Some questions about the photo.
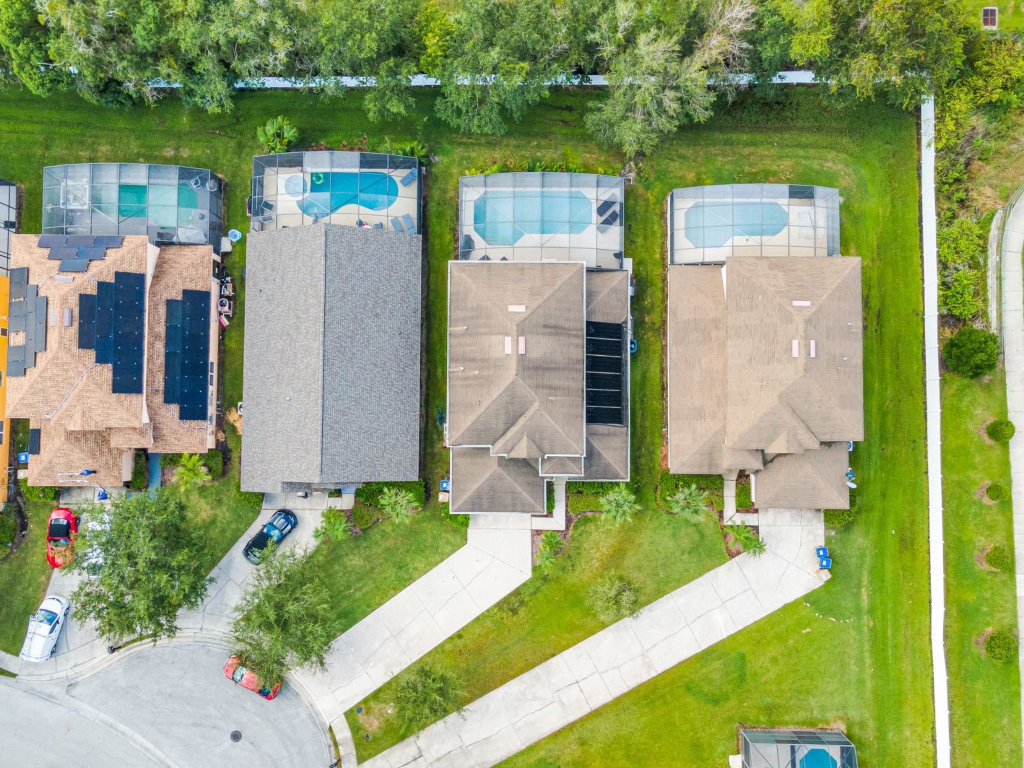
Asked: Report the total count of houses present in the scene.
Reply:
4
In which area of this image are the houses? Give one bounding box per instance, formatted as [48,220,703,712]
[446,260,631,514]
[240,224,422,493]
[5,233,221,487]
[667,255,864,509]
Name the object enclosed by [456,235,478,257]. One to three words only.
umbrella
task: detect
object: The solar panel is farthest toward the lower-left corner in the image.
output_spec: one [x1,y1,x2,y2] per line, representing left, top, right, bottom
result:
[28,429,40,454]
